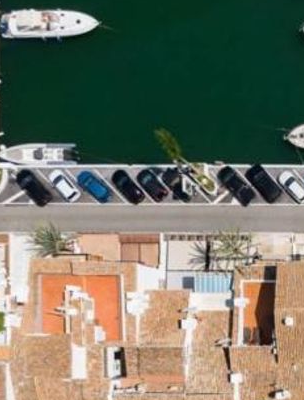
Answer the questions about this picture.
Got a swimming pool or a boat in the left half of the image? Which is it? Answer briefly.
boat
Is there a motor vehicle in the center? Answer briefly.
Yes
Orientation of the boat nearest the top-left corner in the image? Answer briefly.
horizontally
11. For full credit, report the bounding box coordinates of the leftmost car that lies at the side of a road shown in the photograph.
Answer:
[20,169,54,207]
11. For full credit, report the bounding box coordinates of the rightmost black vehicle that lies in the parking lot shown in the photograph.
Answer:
[247,166,282,203]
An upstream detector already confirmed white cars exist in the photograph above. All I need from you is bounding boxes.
[279,170,304,205]
[52,171,81,202]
